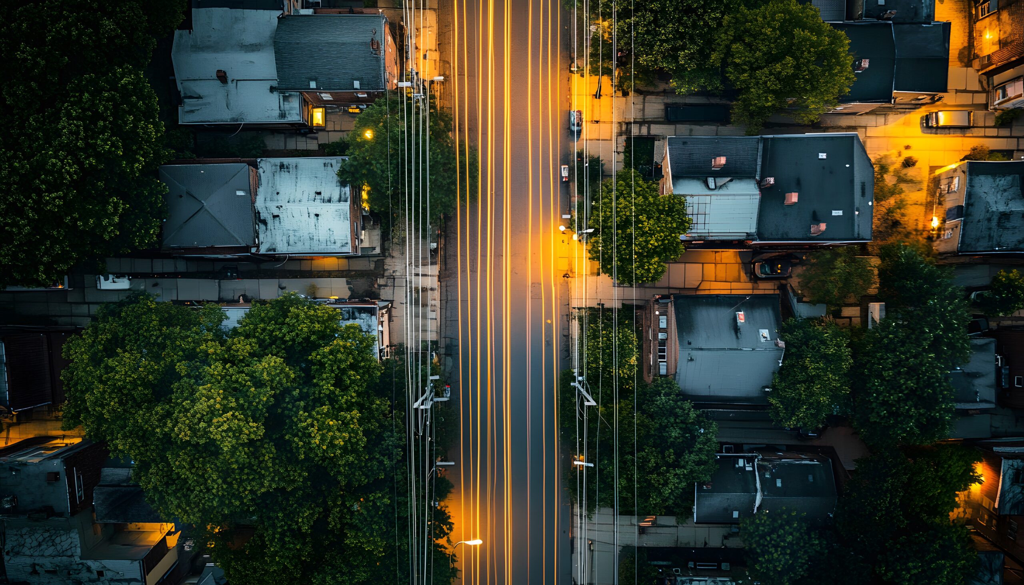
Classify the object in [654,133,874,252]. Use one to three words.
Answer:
house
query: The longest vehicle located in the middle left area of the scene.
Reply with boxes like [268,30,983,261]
[97,274,135,291]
